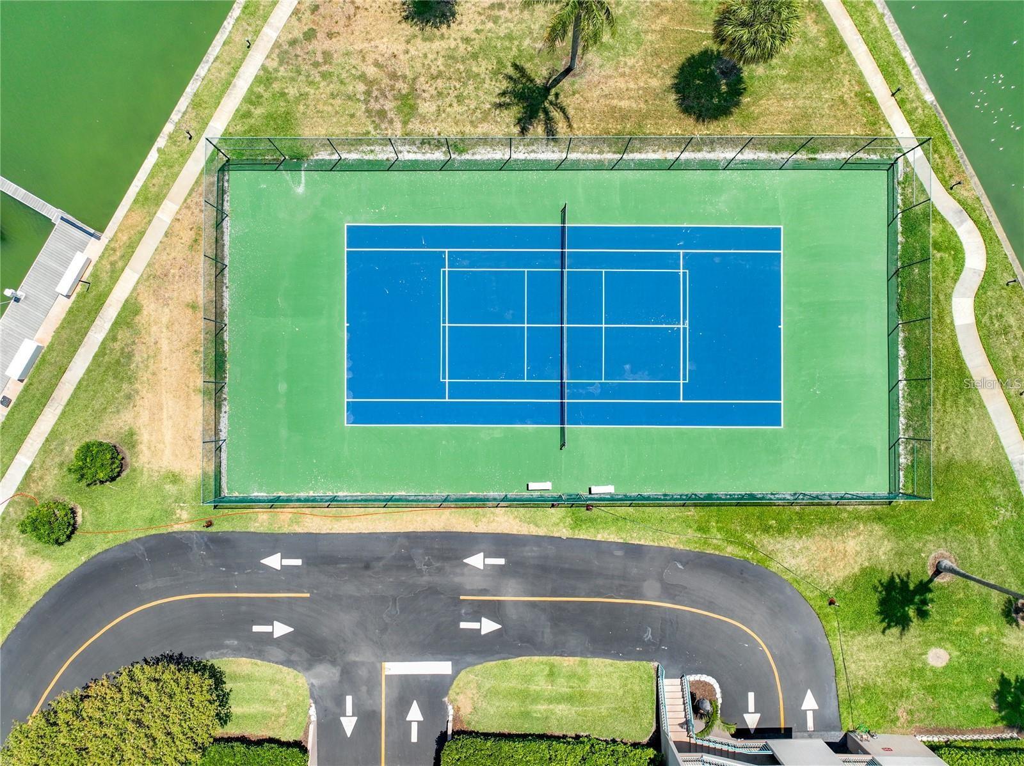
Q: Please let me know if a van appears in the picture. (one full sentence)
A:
No, there appears to be no van in this shot.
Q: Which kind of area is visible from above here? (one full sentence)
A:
This looks like a sports ground.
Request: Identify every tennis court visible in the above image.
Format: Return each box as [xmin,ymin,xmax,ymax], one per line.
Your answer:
[226,157,899,494]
